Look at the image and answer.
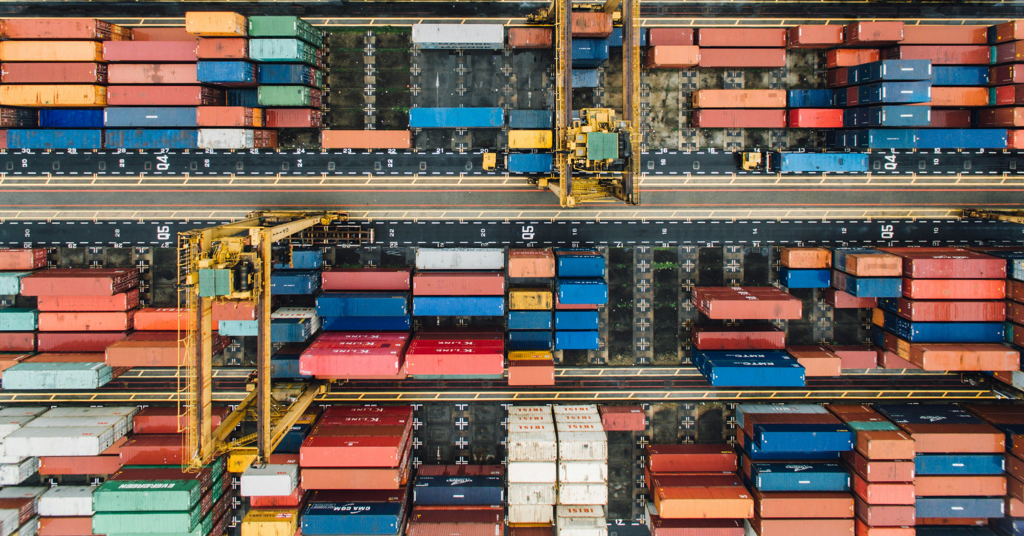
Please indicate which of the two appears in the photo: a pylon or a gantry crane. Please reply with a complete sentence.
This aerial view contains a gantry crane.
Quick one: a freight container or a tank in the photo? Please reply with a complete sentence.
The image shows a freight container.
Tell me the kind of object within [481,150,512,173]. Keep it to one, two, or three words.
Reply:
work vehicle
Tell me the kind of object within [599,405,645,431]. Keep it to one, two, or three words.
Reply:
shipping container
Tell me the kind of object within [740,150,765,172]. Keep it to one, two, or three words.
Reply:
work vehicle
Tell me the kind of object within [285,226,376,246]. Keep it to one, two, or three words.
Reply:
trailer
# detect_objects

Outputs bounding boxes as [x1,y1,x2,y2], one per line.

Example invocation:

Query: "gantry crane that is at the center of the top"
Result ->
[519,0,646,208]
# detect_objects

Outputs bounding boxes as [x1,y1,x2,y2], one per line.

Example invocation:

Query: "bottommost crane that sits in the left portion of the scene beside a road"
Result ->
[166,207,350,473]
